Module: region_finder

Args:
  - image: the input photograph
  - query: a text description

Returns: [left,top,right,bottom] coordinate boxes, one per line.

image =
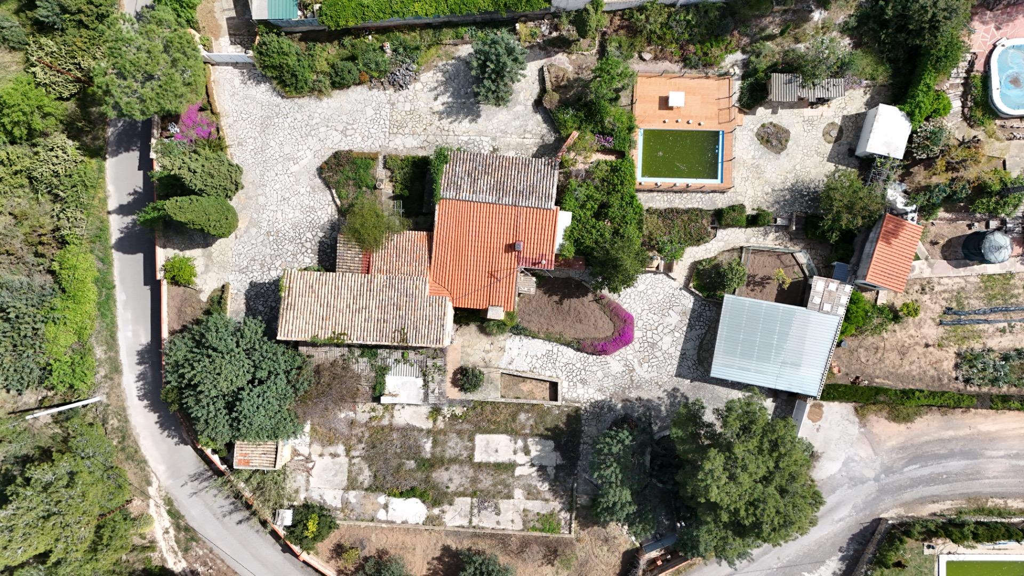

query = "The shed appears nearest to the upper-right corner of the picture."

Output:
[853,104,911,162]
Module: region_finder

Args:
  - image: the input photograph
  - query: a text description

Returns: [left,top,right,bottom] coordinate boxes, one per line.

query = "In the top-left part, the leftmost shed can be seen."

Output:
[252,0,306,31]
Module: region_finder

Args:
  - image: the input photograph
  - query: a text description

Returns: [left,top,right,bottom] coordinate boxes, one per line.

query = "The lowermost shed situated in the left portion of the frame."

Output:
[230,433,297,469]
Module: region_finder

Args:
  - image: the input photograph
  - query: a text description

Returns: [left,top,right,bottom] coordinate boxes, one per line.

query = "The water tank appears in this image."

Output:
[966,229,1016,263]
